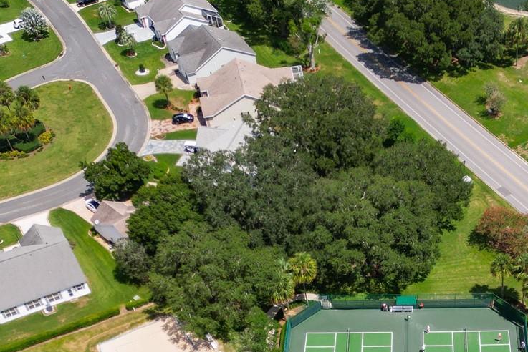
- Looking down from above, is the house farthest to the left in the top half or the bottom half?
bottom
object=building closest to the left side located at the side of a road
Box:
[0,225,92,325]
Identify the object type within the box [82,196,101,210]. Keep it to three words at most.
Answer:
car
